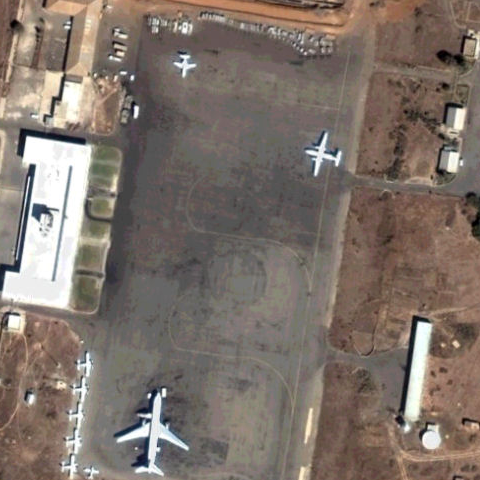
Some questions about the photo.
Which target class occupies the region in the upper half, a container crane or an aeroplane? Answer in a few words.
aeroplane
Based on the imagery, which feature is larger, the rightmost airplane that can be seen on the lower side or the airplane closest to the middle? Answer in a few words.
the rightmost airplane that can be seen on the lower side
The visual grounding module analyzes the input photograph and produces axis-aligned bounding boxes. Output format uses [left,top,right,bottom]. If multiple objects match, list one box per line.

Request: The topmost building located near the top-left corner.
[45,0,102,75]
